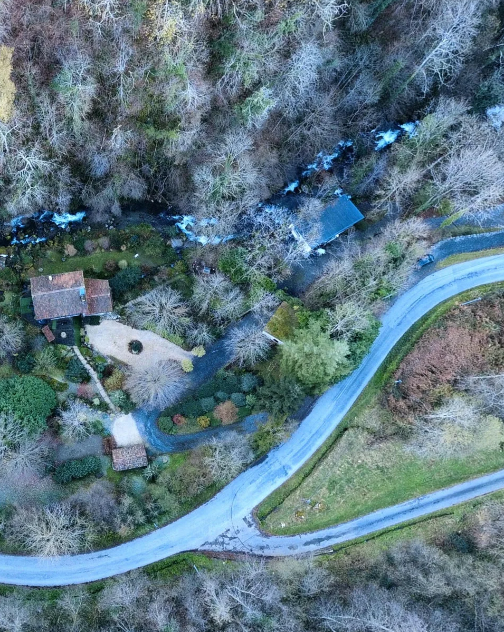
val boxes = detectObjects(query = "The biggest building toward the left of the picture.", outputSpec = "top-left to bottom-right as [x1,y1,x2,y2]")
[30,270,113,321]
